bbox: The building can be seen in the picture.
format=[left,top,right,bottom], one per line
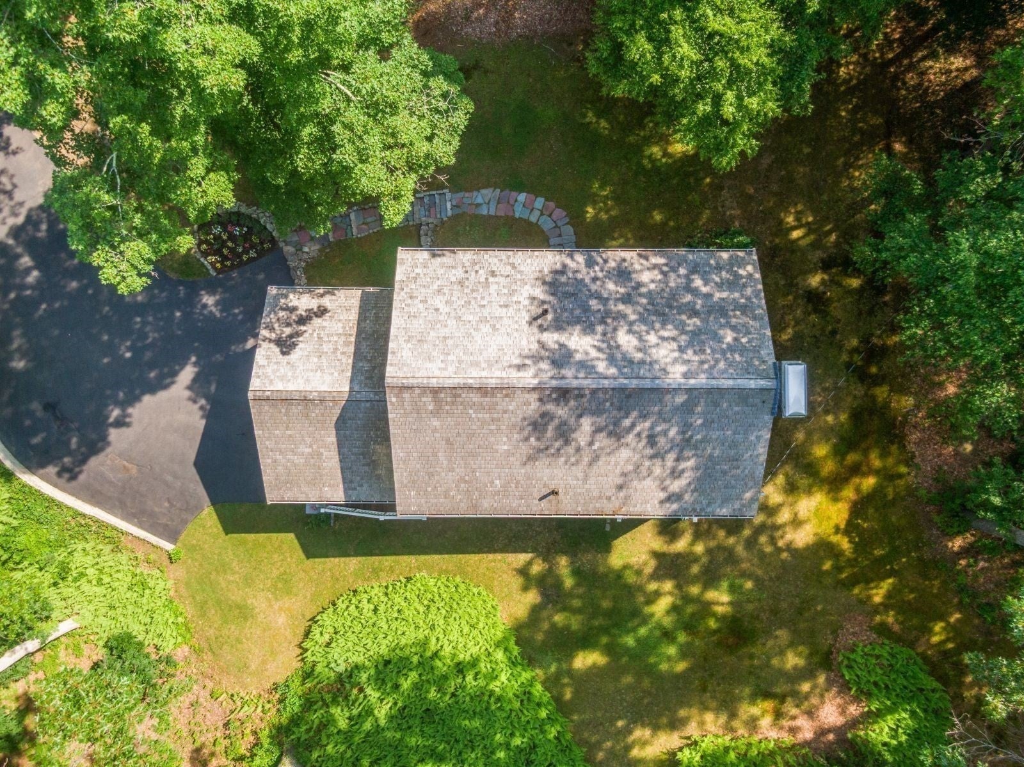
[247,247,807,520]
